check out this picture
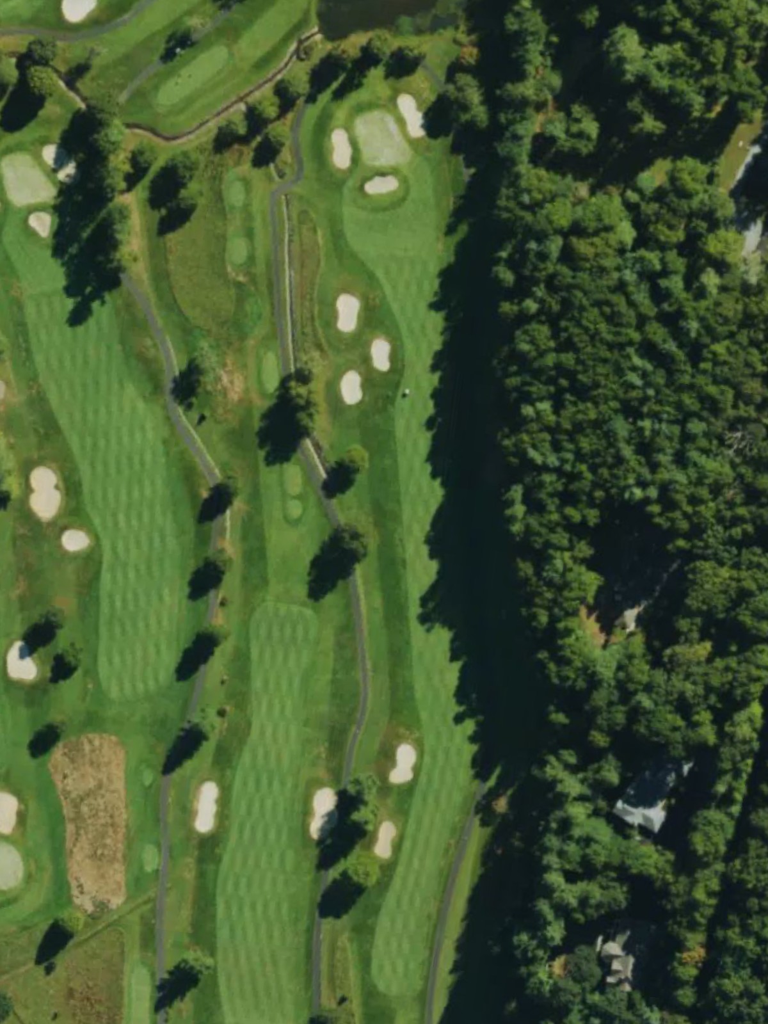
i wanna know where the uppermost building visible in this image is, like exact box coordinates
[613,595,645,624]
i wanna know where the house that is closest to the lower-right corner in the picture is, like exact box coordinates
[601,937,638,993]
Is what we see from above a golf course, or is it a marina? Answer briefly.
golf course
